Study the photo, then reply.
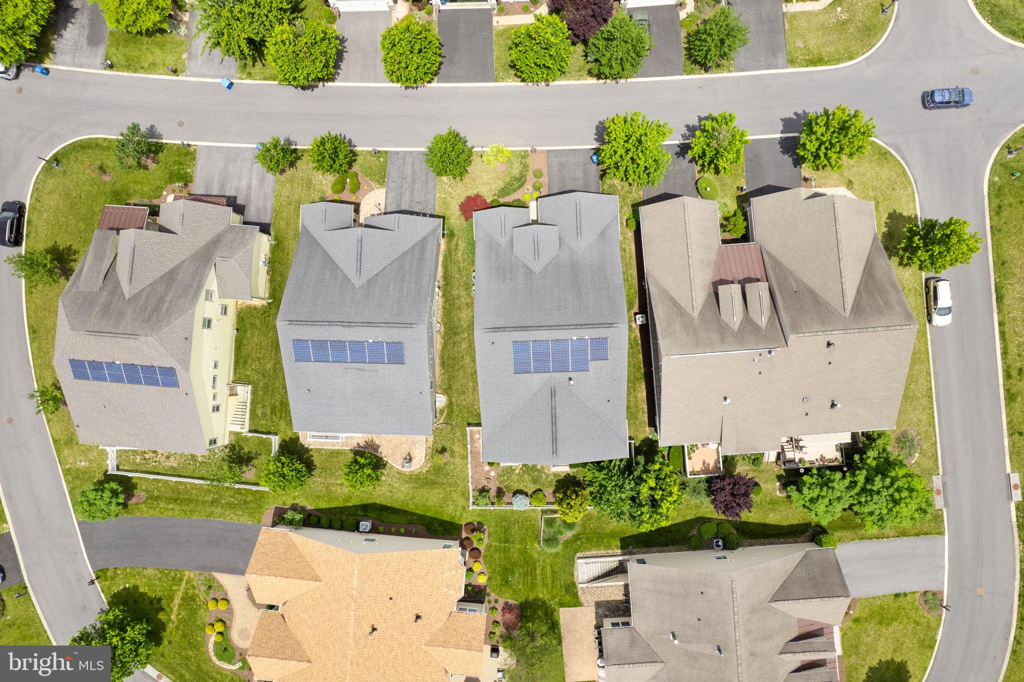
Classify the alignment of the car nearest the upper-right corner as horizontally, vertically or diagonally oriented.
horizontally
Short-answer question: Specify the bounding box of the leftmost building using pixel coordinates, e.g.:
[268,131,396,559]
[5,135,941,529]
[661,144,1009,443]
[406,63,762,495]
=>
[53,195,277,455]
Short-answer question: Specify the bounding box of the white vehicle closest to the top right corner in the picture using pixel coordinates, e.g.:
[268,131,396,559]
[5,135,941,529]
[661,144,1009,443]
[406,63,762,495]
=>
[927,278,954,326]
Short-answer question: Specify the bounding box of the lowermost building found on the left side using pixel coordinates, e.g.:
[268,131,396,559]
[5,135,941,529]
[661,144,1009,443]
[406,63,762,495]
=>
[245,519,493,682]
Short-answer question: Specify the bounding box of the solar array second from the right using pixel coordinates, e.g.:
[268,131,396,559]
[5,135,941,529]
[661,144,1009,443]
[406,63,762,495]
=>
[291,339,405,364]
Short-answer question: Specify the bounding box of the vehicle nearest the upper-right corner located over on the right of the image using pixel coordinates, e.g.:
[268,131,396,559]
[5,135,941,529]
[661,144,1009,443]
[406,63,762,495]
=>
[921,85,970,111]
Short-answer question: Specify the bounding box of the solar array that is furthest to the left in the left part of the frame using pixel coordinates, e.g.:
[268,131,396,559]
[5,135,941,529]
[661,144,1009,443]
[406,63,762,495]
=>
[68,358,179,389]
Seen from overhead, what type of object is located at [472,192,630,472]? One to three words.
house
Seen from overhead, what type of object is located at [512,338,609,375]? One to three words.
solar array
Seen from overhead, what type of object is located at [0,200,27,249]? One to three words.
car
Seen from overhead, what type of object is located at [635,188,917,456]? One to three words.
house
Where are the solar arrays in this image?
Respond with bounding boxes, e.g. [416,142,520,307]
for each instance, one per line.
[512,338,609,375]
[291,339,405,364]
[68,358,179,389]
